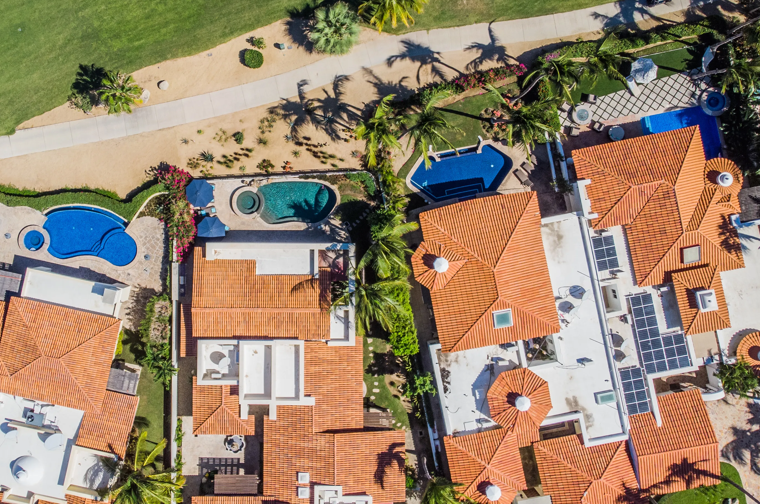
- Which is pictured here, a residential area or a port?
residential area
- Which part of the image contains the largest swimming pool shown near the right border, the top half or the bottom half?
top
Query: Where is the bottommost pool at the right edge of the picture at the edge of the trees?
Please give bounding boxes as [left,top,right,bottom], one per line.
[637,103,725,163]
